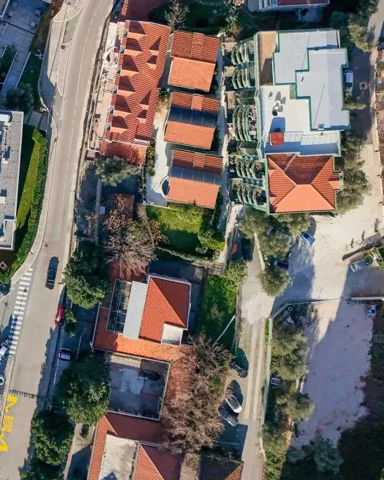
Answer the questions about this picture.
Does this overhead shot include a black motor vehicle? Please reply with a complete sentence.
Yes, this view includes a black motor vehicle.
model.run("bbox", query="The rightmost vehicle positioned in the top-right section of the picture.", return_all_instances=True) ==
[343,70,355,95]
